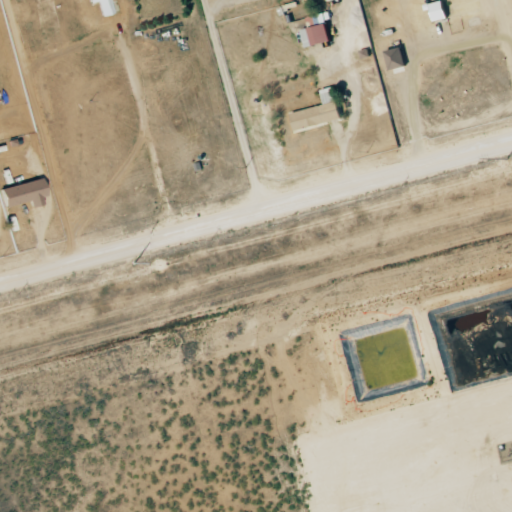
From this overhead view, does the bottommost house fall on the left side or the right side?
left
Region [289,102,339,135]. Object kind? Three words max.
house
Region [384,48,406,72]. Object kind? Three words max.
house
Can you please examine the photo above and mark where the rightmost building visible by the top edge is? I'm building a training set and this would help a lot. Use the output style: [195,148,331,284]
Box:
[422,0,446,22]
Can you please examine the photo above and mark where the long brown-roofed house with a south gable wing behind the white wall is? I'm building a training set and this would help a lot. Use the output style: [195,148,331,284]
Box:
[1,178,49,208]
